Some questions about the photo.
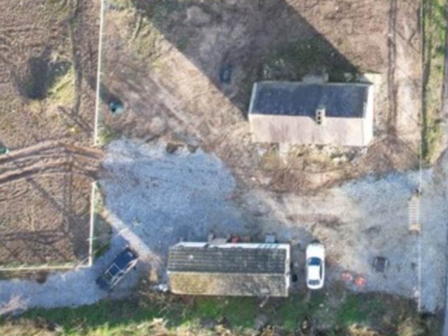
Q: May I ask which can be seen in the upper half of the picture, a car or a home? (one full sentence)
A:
What appears in the upper half of the picture is a home.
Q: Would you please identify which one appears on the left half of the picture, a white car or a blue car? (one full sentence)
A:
The feature located on the left half of the picture is a blue car.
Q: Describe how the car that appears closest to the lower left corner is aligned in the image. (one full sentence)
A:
The car that appears closest to the lower left corner has been laid out on a diagonal relative to the frame.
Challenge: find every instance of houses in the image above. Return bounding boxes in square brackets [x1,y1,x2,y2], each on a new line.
[253,70,372,147]
[169,242,294,299]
